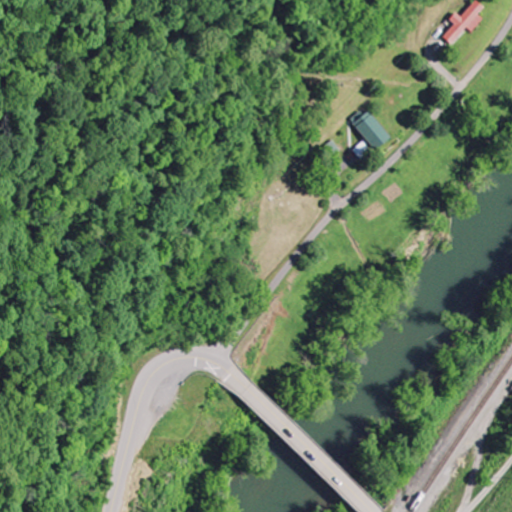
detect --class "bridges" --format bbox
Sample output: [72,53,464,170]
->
[214,362,380,512]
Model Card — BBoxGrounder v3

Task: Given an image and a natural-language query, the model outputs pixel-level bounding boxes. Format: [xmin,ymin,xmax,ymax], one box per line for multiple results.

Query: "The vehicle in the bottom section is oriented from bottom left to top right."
[412,490,426,509]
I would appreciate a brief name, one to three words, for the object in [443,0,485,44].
house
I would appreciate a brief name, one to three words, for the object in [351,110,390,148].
building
